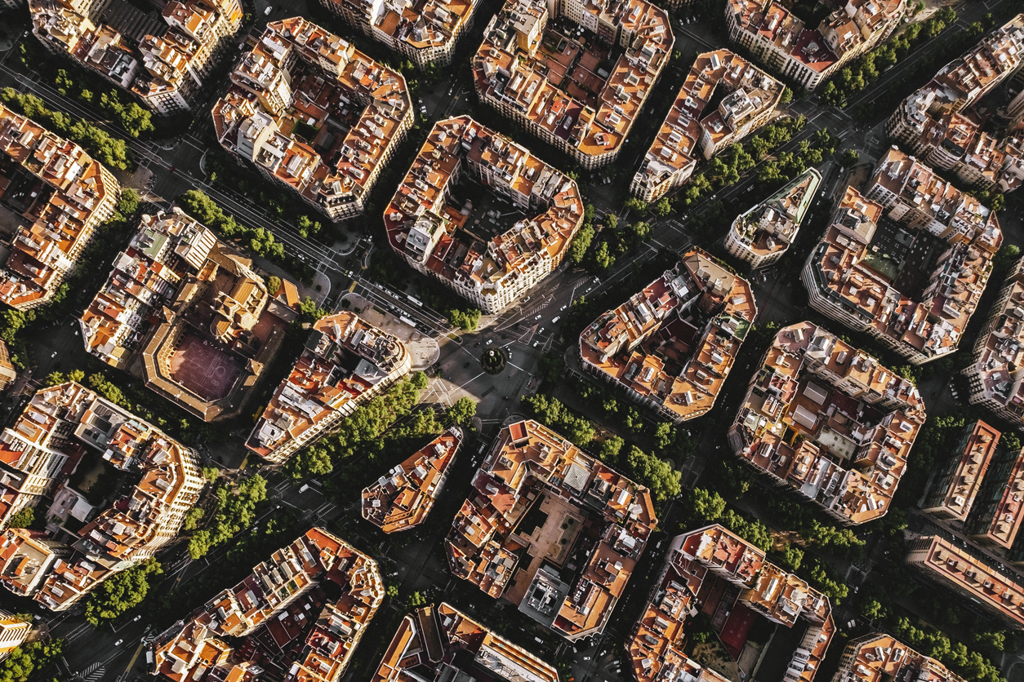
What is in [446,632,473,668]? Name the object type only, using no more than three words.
building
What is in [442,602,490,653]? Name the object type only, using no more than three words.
house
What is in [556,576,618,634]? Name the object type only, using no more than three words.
house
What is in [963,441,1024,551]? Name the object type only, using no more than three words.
building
